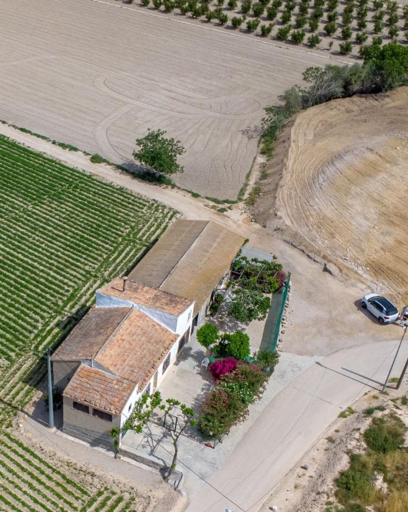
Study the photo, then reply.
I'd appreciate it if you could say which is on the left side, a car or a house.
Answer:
house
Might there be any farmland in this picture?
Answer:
Yes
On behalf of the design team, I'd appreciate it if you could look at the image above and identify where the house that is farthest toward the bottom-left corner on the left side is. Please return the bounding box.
[46,275,198,457]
